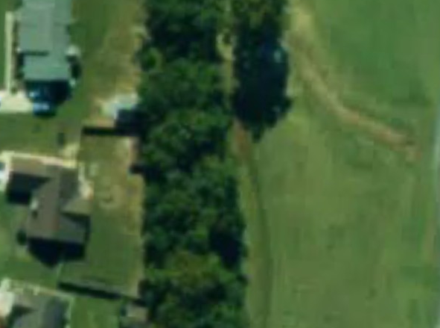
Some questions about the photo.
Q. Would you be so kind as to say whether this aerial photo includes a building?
Yes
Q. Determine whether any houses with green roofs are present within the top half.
Yes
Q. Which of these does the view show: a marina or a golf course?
golf course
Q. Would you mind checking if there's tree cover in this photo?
Yes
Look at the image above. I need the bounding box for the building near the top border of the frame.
[17,0,80,81]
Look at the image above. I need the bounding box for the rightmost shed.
[114,109,134,133]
